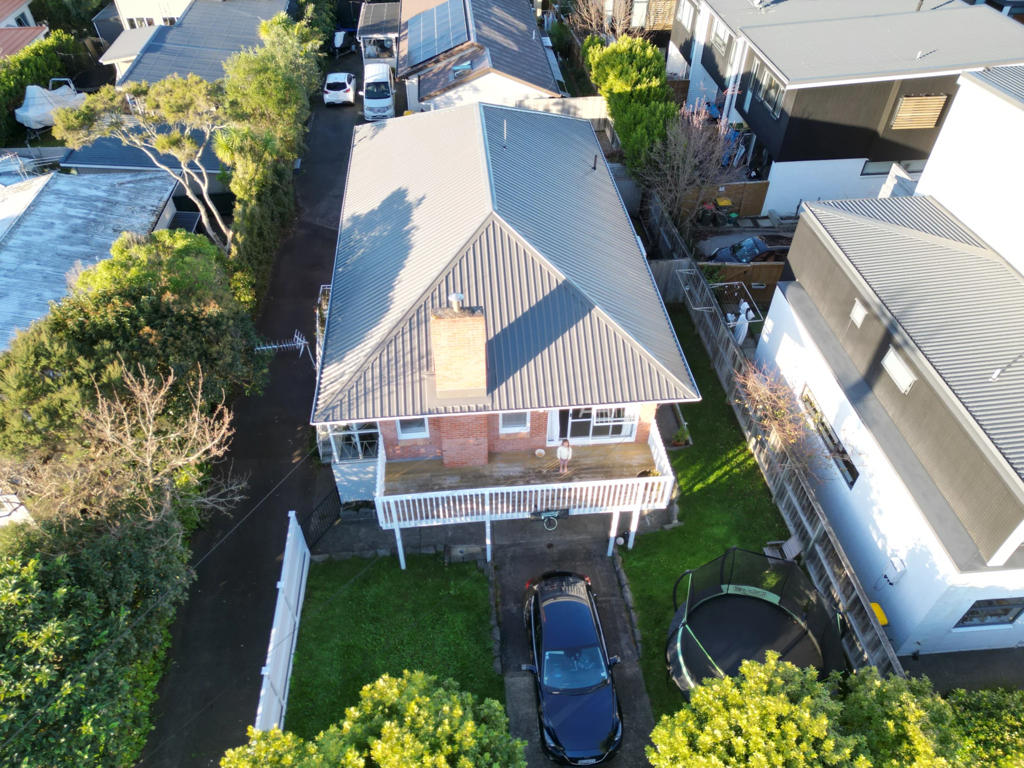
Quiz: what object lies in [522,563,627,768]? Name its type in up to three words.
car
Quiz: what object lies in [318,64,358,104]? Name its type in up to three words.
car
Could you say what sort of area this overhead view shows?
residential area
